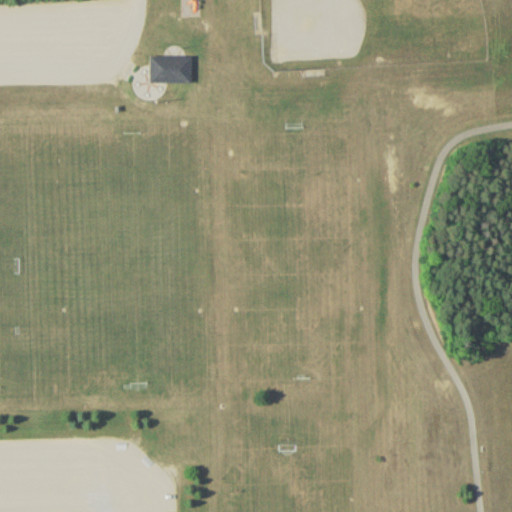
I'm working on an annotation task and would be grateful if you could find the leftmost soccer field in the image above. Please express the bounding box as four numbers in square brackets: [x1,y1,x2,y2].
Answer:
[20,134,203,385]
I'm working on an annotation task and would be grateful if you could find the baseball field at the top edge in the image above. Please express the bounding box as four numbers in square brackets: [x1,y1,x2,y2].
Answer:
[268,0,486,70]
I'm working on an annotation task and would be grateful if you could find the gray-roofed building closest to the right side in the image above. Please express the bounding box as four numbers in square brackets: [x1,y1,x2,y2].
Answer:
[150,56,192,82]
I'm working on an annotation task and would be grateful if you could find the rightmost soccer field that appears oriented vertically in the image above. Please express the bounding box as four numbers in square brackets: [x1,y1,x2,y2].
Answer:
[234,130,362,446]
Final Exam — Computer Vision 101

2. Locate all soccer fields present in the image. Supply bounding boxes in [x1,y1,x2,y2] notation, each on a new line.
[234,130,362,446]
[20,134,203,385]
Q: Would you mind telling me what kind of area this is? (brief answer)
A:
sports ground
